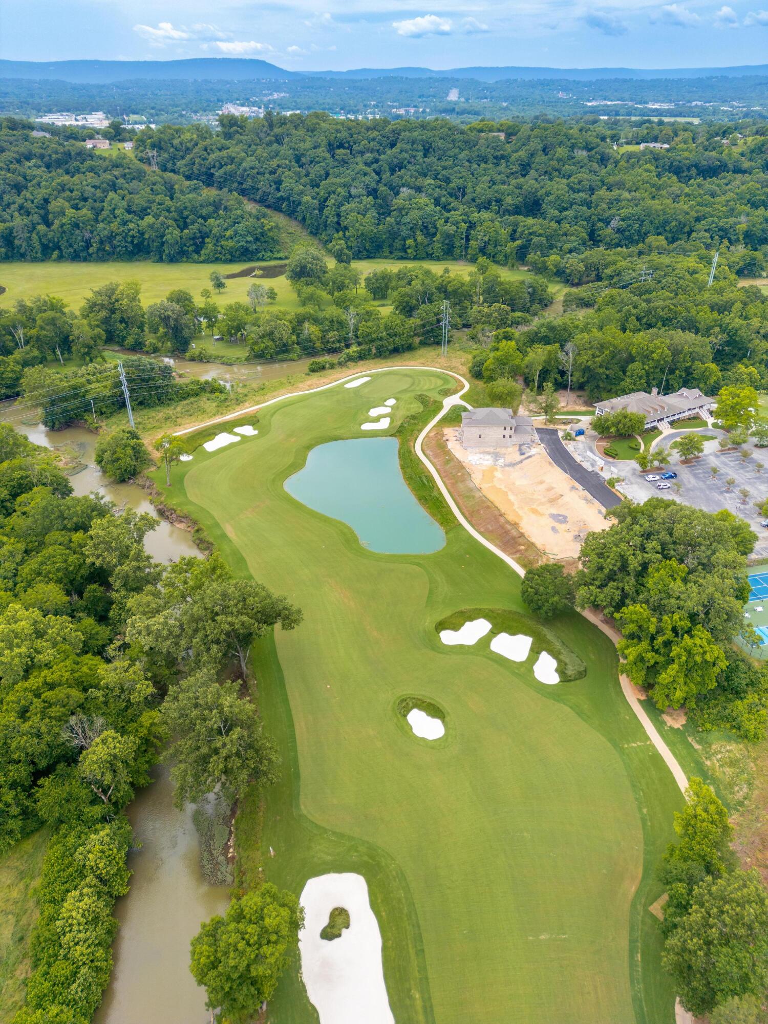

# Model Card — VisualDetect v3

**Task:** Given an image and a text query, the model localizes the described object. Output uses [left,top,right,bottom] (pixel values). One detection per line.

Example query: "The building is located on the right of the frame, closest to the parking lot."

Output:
[593,380,717,439]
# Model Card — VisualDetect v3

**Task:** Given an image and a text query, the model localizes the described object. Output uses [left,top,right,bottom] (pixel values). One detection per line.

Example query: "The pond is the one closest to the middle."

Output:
[283,437,446,554]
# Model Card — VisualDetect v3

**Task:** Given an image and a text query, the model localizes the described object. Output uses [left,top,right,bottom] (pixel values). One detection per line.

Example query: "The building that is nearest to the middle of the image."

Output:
[459,402,532,446]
